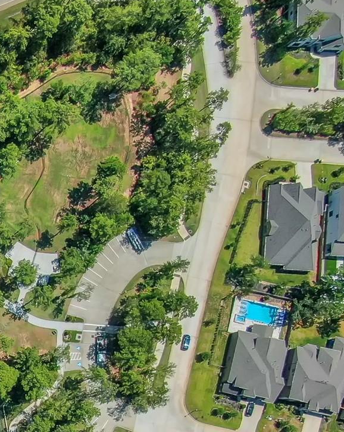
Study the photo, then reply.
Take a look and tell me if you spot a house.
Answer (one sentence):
Yes, the image includes a house.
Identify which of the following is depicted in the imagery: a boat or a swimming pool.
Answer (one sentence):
Visible in the photo is a swimming pool.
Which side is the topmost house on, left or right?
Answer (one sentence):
The topmost house appears in the right half of the scene.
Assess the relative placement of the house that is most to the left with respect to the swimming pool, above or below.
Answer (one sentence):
In the image, the house that is most to the left appears below the swimming pool.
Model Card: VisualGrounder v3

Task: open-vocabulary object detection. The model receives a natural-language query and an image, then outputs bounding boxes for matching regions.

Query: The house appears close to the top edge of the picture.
[287,0,344,57]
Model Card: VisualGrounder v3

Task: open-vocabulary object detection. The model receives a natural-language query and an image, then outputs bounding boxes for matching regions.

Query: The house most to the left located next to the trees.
[218,324,287,403]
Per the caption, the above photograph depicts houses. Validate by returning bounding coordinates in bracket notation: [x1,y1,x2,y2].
[259,180,325,271]
[287,0,344,57]
[283,337,344,413]
[326,186,344,257]
[218,324,287,403]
